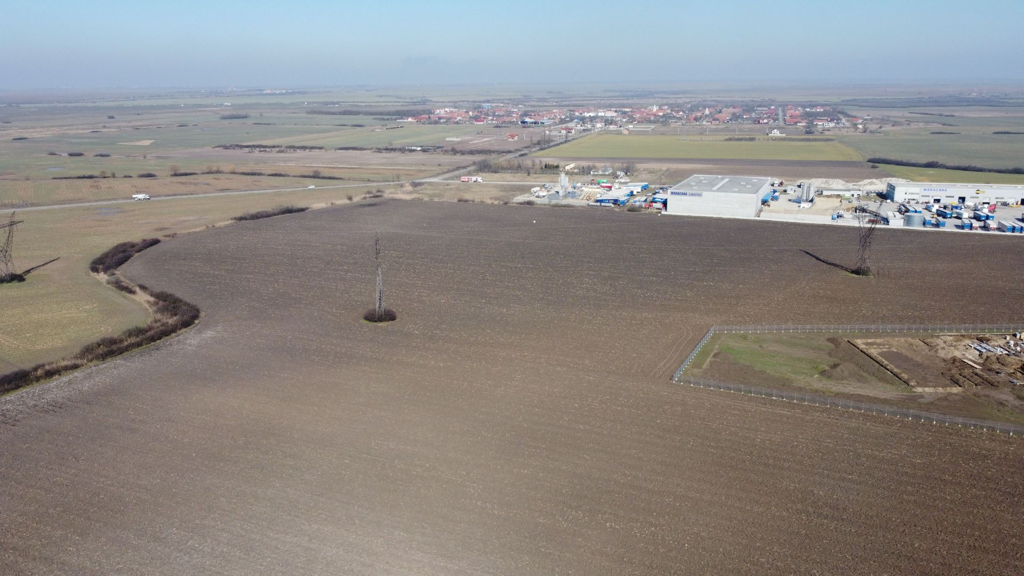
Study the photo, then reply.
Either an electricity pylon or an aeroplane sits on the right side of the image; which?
electricity pylon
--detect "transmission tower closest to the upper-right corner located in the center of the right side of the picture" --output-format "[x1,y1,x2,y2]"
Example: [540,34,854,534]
[853,195,887,274]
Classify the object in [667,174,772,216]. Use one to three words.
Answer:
building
